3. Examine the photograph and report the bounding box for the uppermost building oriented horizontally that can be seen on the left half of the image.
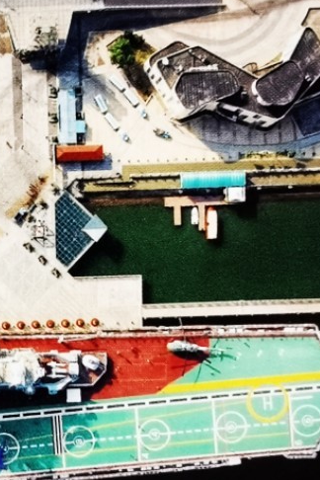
[55,145,103,163]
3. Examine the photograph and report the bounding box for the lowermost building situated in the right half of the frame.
[219,187,246,203]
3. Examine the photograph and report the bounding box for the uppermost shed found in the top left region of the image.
[57,88,85,145]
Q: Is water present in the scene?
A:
Yes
